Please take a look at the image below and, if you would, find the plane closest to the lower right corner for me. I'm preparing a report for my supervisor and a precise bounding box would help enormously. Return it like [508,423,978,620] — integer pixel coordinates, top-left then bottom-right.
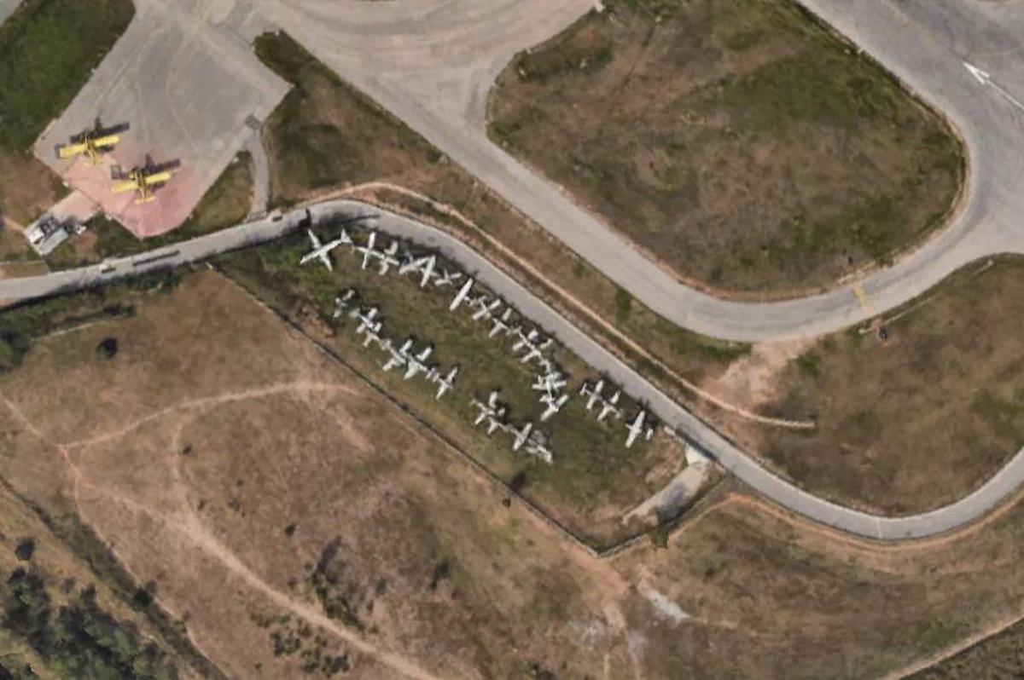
[625,411,651,449]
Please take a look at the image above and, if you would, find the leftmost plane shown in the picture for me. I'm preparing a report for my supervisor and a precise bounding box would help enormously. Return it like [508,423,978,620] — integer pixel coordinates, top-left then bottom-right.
[55,125,118,168]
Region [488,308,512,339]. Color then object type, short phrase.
white airplane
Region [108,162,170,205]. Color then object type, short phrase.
yellow airplane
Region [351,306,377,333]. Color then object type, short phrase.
white airplane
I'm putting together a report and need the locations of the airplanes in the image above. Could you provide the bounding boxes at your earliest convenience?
[363,322,385,347]
[597,392,623,420]
[539,394,569,422]
[435,267,461,287]
[433,367,457,399]
[351,306,377,333]
[300,227,354,270]
[526,433,555,461]
[108,162,170,205]
[580,381,604,410]
[487,409,510,436]
[521,339,553,366]
[488,308,512,339]
[354,234,382,269]
[418,254,441,287]
[382,338,411,370]
[333,290,355,318]
[398,251,428,273]
[507,423,533,451]
[380,241,403,274]
[471,296,500,318]
[404,347,433,381]
[532,372,567,395]
[449,277,476,311]
[511,326,539,351]
[625,411,651,449]
[55,125,118,168]
[472,391,498,425]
